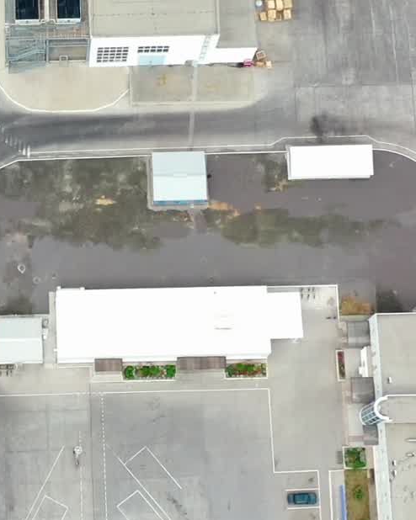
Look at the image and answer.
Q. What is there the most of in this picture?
paved ground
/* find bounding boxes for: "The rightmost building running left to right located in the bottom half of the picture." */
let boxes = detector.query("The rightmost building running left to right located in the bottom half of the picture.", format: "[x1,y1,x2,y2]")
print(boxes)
[54,285,305,363]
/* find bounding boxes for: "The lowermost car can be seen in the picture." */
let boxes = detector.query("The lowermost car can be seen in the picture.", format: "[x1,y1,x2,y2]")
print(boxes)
[285,491,315,505]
